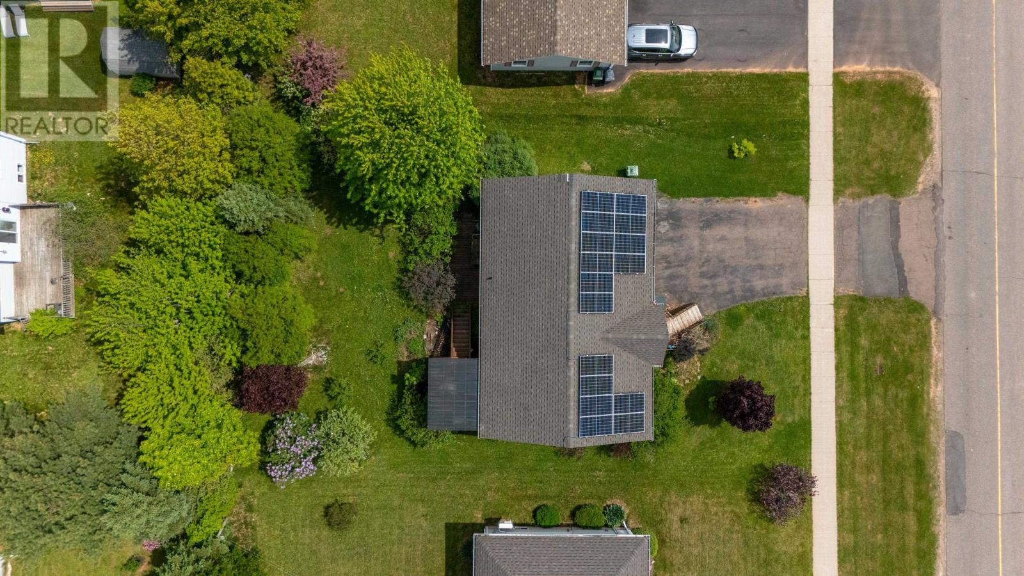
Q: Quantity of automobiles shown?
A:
one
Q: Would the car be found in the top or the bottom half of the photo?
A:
top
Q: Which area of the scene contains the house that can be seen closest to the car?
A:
top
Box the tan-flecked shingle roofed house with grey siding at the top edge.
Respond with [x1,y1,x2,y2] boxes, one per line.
[480,0,628,78]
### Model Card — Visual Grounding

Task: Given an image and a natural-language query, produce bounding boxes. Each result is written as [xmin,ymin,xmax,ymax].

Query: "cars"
[628,19,698,62]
